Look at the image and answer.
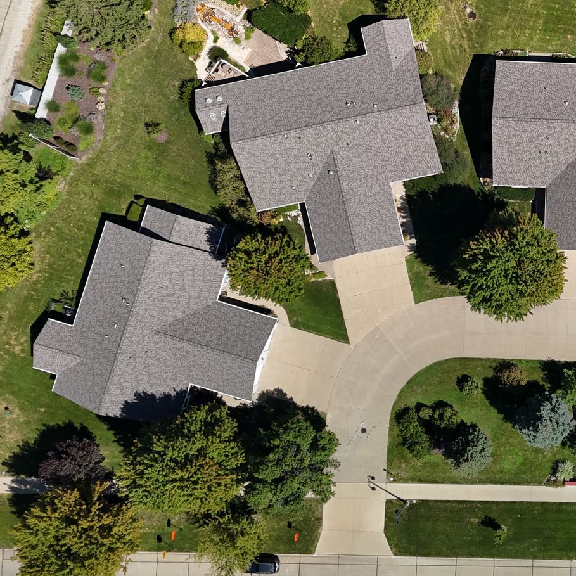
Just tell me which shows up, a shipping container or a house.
house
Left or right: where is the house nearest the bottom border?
left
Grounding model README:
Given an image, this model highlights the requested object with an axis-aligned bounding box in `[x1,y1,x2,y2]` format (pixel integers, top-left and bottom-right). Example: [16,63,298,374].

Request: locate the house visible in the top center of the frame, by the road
[195,19,443,264]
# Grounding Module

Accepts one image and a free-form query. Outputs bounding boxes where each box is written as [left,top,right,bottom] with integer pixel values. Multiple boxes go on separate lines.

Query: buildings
[195,19,443,264]
[6,82,38,108]
[492,61,576,251]
[32,204,281,424]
